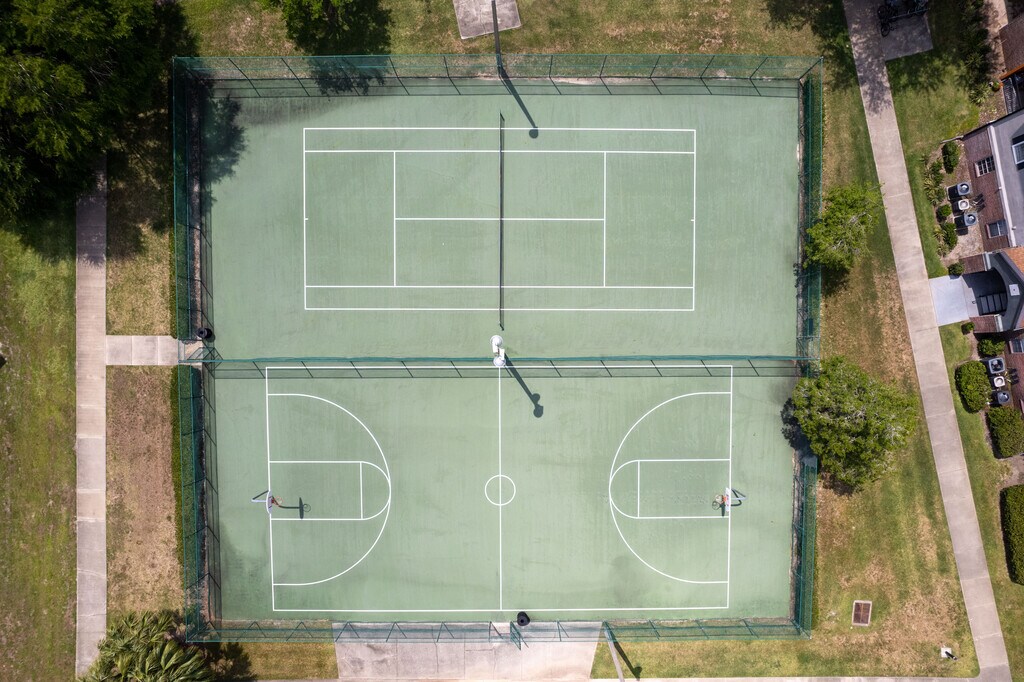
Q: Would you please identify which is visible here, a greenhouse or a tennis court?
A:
tennis court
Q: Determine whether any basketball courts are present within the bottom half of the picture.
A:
Yes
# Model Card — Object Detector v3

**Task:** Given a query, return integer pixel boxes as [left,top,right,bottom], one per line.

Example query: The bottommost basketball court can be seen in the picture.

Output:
[203,360,797,621]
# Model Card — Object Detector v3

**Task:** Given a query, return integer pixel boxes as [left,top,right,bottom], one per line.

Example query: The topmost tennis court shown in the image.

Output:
[199,80,798,360]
